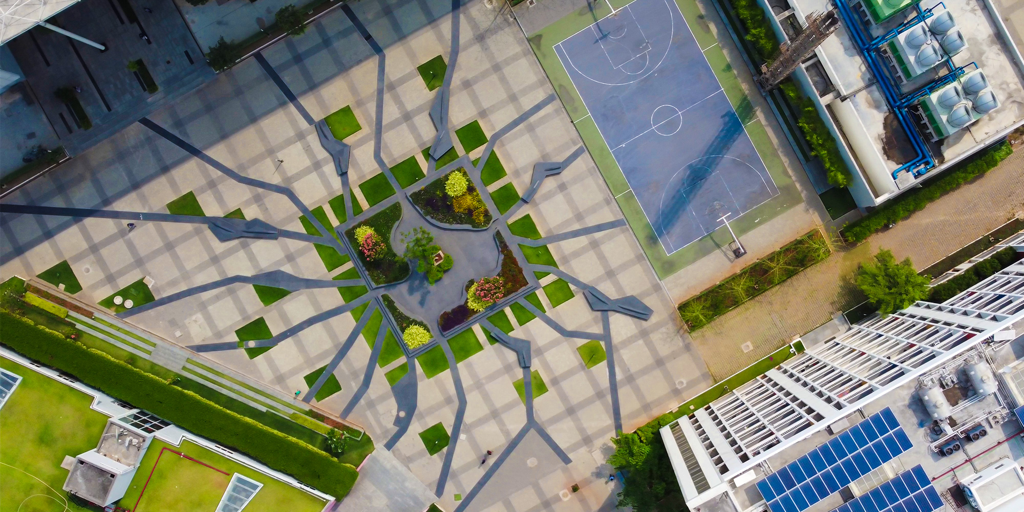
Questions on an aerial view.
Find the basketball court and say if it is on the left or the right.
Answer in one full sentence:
It is on the right.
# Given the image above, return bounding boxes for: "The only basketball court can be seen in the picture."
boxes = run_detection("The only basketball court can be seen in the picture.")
[531,0,804,279]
